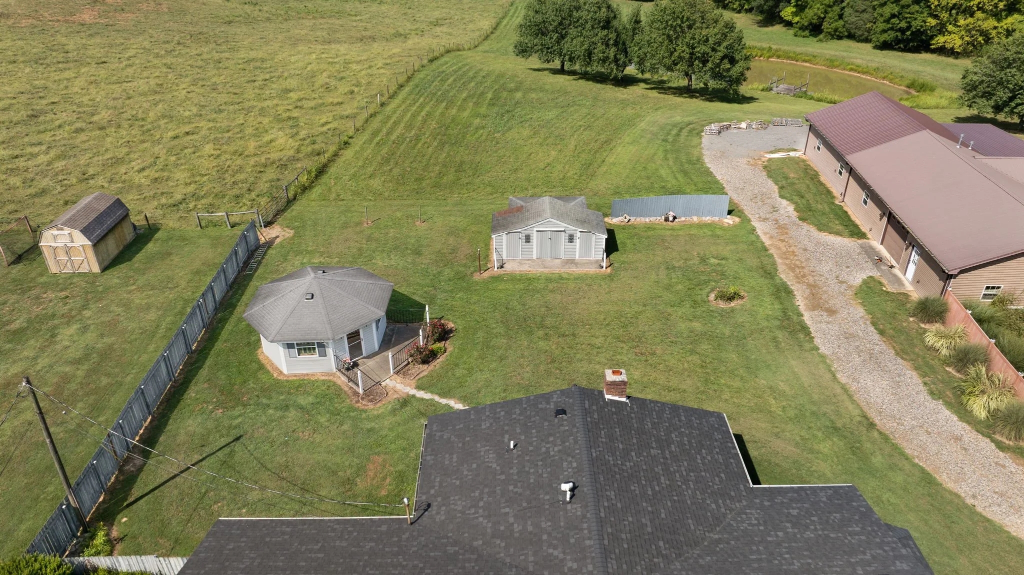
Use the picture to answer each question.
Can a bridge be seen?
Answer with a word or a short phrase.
No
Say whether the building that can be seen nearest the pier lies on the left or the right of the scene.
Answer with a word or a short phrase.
right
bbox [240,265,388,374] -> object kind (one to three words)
house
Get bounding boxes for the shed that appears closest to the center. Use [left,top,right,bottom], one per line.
[491,196,607,259]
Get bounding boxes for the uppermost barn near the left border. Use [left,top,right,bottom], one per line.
[37,190,133,273]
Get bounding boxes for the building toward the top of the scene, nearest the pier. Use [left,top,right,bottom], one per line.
[803,90,1024,316]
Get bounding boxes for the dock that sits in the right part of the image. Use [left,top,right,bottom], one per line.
[770,69,812,97]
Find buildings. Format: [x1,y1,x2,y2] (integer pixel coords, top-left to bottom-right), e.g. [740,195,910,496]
[37,190,133,273]
[182,368,932,575]
[491,196,607,259]
[240,265,388,374]
[803,90,1024,316]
